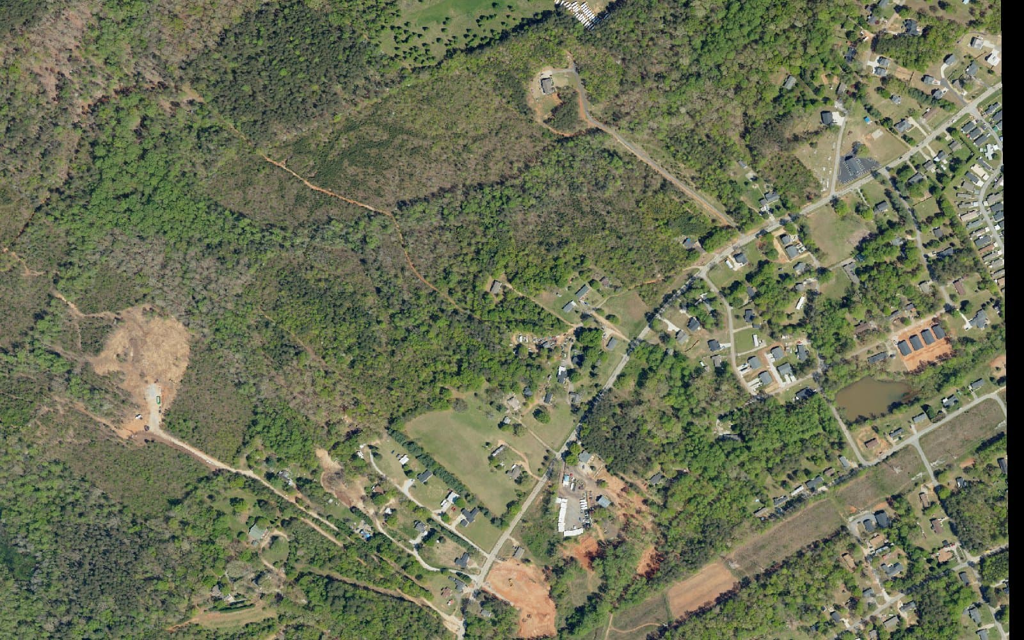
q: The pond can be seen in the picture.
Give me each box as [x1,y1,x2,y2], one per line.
[835,376,912,420]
